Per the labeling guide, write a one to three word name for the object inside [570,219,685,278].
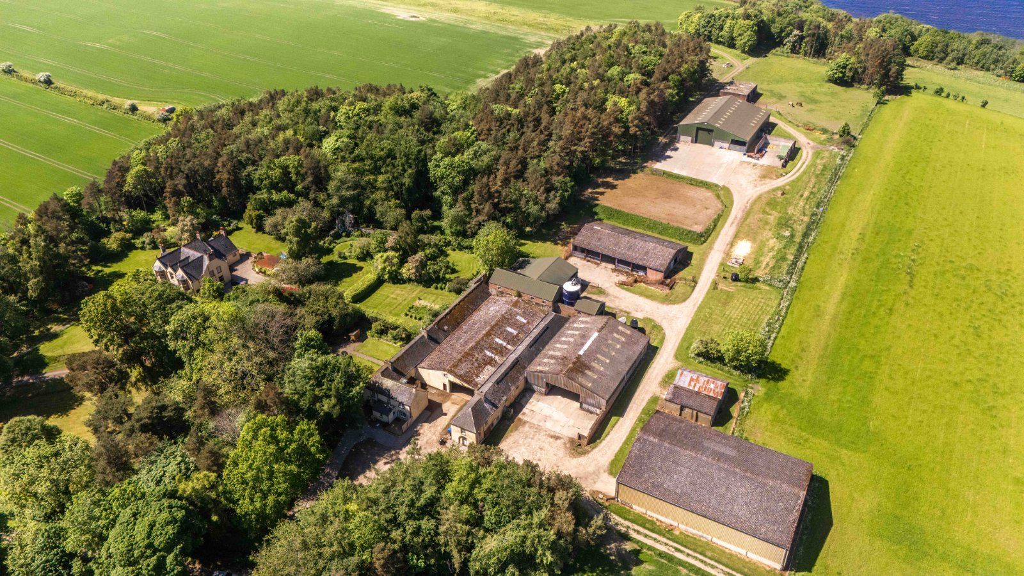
shed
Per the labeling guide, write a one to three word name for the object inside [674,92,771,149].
barn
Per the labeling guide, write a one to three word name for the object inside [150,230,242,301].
house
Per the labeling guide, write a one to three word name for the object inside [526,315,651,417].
barn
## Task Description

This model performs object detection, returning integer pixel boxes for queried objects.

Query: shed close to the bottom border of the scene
[621,409,819,564]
